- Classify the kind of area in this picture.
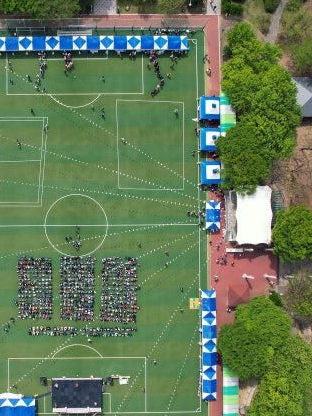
sports ground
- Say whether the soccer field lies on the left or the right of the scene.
left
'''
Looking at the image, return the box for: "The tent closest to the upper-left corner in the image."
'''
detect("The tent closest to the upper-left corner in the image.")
[0,36,26,53]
